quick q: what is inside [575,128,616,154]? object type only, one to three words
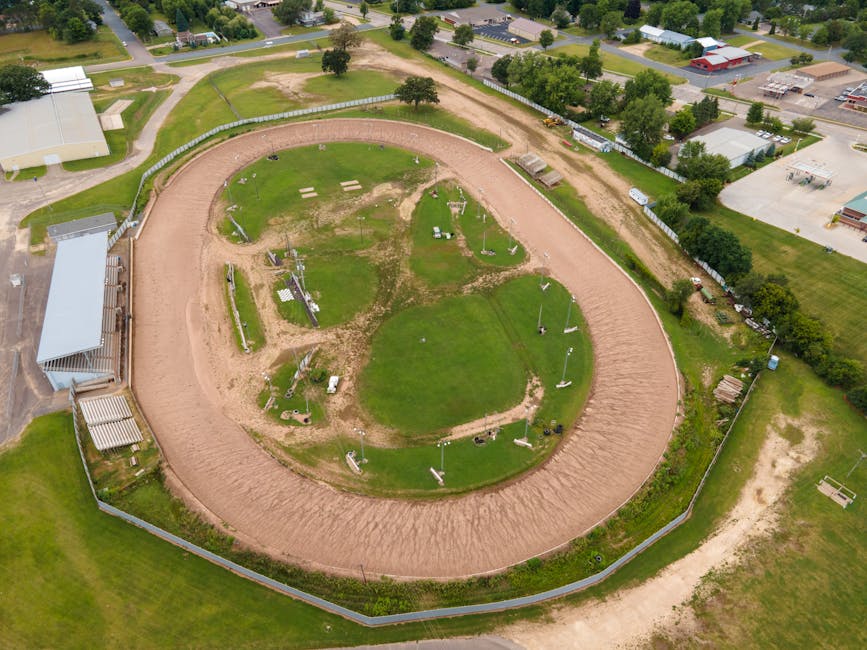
shed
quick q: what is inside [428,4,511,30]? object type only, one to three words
building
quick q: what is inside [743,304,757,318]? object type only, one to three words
car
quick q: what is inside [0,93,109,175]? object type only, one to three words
building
